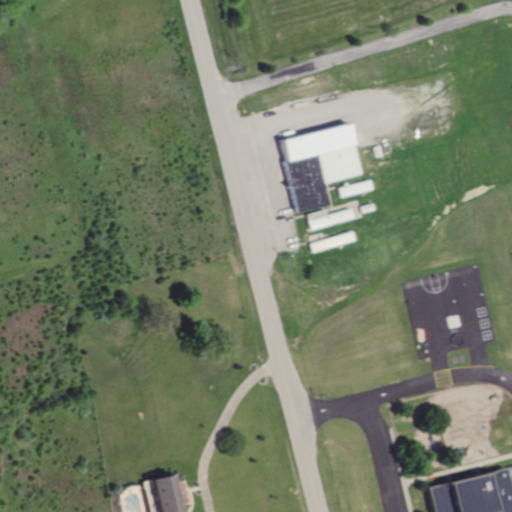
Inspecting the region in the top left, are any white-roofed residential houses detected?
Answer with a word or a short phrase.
No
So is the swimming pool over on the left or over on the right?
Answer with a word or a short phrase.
left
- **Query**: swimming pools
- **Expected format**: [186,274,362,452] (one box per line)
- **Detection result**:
[120,484,145,512]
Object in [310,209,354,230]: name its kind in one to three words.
house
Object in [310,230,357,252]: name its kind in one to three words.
house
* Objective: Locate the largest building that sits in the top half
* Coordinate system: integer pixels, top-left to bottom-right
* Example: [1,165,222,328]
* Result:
[280,123,364,214]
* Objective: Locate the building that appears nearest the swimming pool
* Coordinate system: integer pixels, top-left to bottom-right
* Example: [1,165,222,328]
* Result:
[155,475,185,512]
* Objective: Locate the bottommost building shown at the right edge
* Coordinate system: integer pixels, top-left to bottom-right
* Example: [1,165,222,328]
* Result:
[431,469,512,512]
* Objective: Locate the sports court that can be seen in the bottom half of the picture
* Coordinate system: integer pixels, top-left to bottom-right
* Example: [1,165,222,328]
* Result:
[403,266,494,372]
